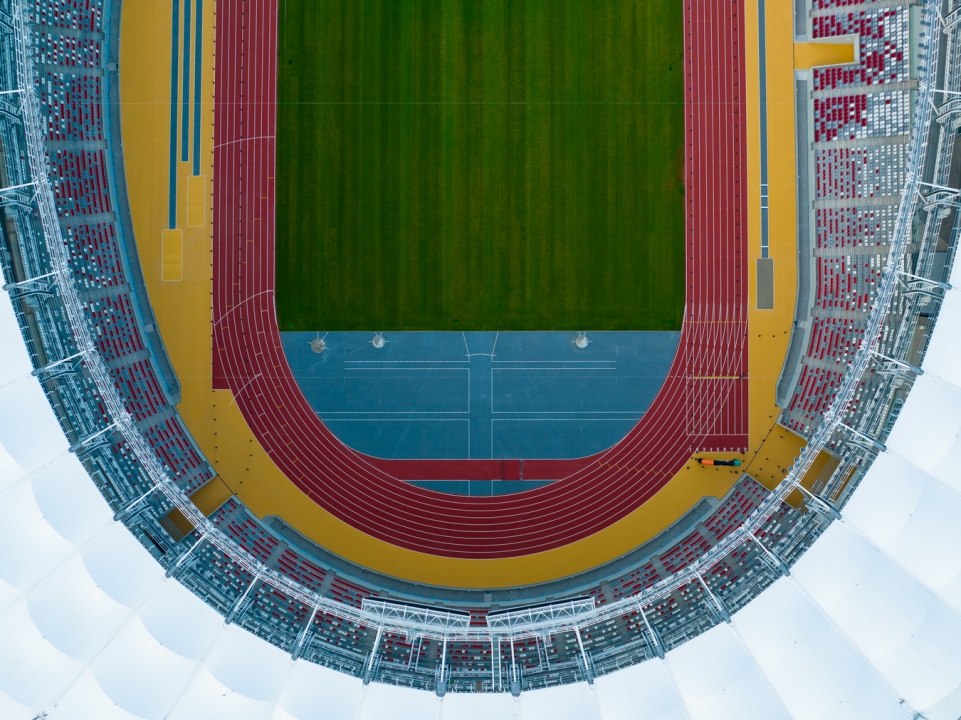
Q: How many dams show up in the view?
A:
0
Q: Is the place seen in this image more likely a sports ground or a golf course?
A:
sports ground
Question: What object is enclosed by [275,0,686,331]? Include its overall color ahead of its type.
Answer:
green soccer field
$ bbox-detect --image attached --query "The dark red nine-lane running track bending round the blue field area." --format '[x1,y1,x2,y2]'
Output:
[212,0,749,560]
